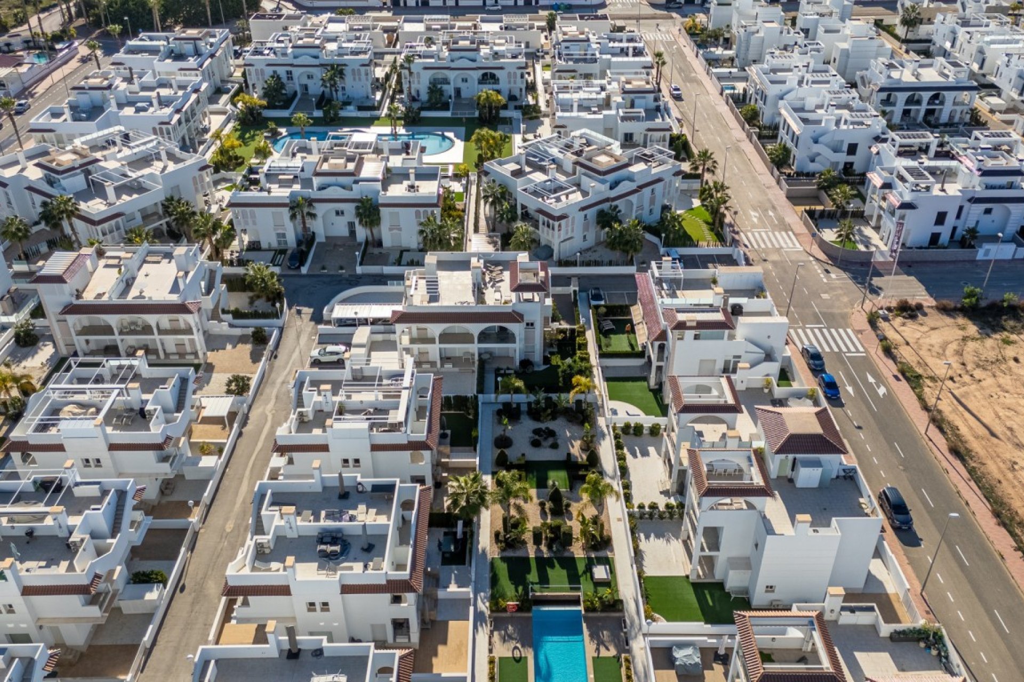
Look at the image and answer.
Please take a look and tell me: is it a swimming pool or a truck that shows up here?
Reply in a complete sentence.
The one in the frame is a swimming pool.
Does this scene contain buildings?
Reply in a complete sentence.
Yes, a building is visible in the scene.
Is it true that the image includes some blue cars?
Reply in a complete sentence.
Yes, the image includes a blue car.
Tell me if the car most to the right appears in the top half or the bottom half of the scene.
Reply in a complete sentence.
Seen from above, the car most to the right lies in the bottom half of the view.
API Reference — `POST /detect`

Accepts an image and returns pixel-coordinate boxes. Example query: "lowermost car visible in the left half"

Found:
[309,344,349,365]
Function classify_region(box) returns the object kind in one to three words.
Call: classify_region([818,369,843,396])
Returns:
car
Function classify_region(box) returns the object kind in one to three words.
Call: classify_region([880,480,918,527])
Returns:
car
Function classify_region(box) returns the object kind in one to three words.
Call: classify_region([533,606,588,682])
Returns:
swimming pool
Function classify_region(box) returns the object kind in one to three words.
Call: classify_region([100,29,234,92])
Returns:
building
